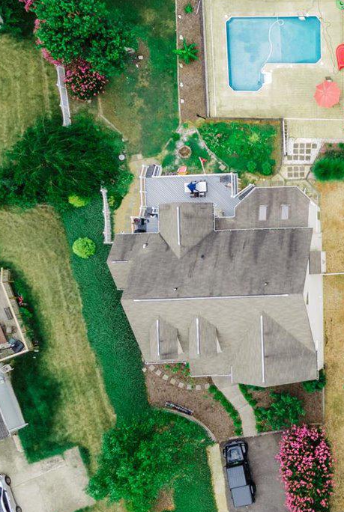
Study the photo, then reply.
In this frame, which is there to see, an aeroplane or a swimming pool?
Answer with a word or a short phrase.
swimming pool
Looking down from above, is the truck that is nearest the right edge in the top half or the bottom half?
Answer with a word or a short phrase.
bottom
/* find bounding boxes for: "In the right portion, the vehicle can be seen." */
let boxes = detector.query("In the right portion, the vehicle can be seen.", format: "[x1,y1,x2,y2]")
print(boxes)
[223,437,259,507]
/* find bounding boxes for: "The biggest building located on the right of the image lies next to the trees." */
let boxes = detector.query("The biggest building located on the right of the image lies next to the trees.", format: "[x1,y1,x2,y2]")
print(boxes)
[108,186,329,387]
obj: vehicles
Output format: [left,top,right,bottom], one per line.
[0,470,23,512]
[223,437,259,507]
